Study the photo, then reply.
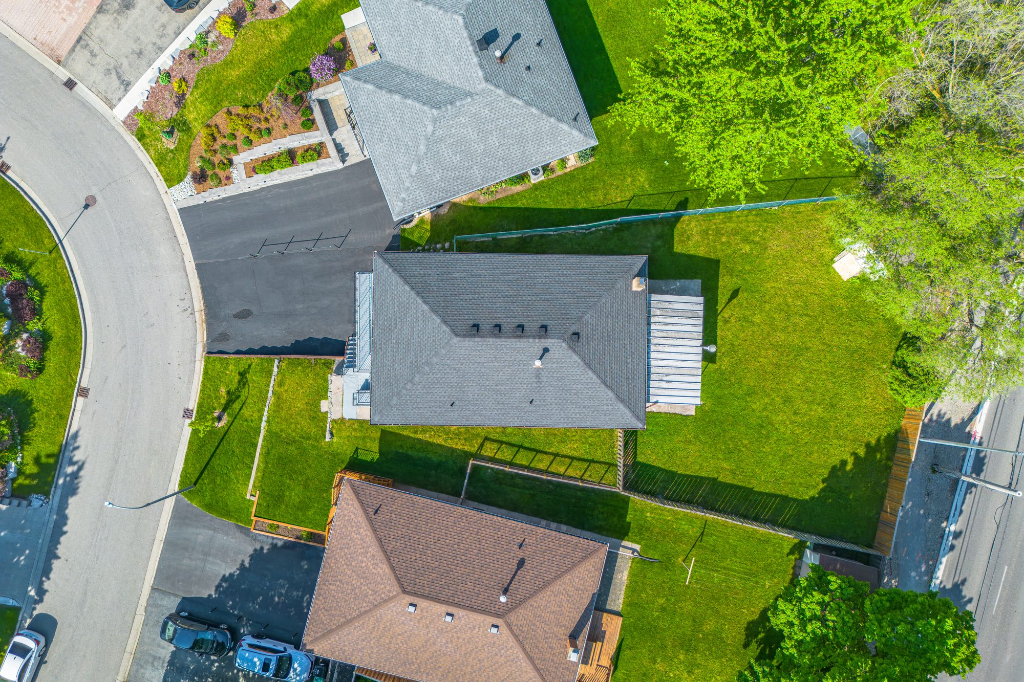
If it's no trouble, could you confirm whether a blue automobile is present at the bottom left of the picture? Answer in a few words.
Yes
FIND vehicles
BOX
[170,0,212,21]
[165,610,234,658]
[0,631,46,682]
[238,633,314,682]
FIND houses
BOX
[368,250,650,431]
[300,475,611,682]
[338,0,600,223]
